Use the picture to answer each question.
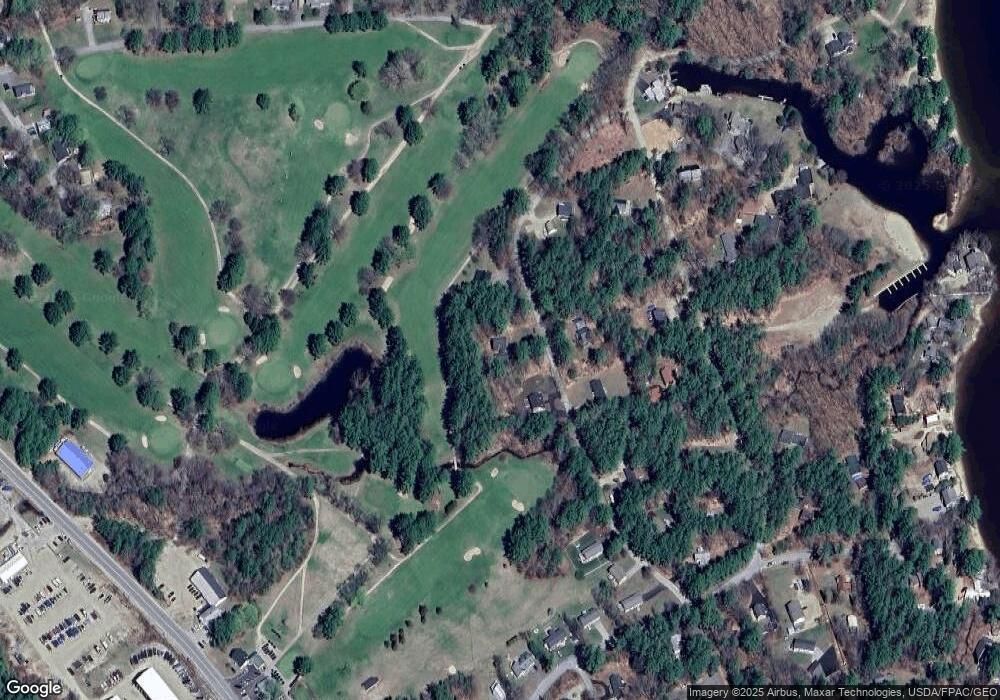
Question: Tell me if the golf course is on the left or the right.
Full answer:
The golf course sits on the left side.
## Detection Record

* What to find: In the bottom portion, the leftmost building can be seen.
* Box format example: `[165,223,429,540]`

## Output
[0,550,30,587]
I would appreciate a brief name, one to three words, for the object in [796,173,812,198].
house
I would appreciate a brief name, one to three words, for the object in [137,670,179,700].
building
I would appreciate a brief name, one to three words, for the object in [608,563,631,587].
house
